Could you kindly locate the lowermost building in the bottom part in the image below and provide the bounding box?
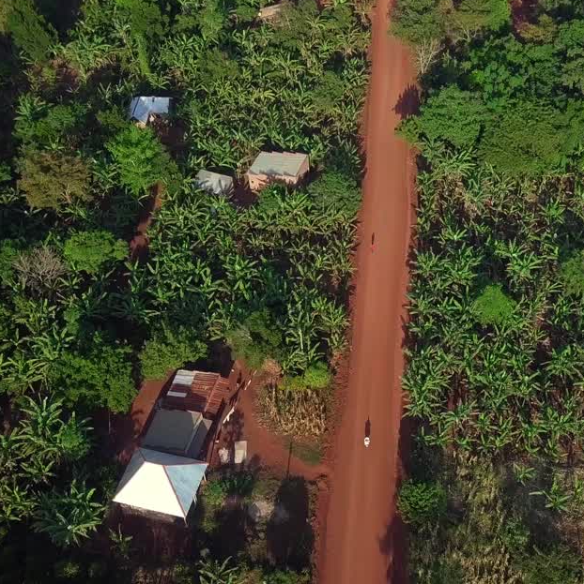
[113,447,210,529]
